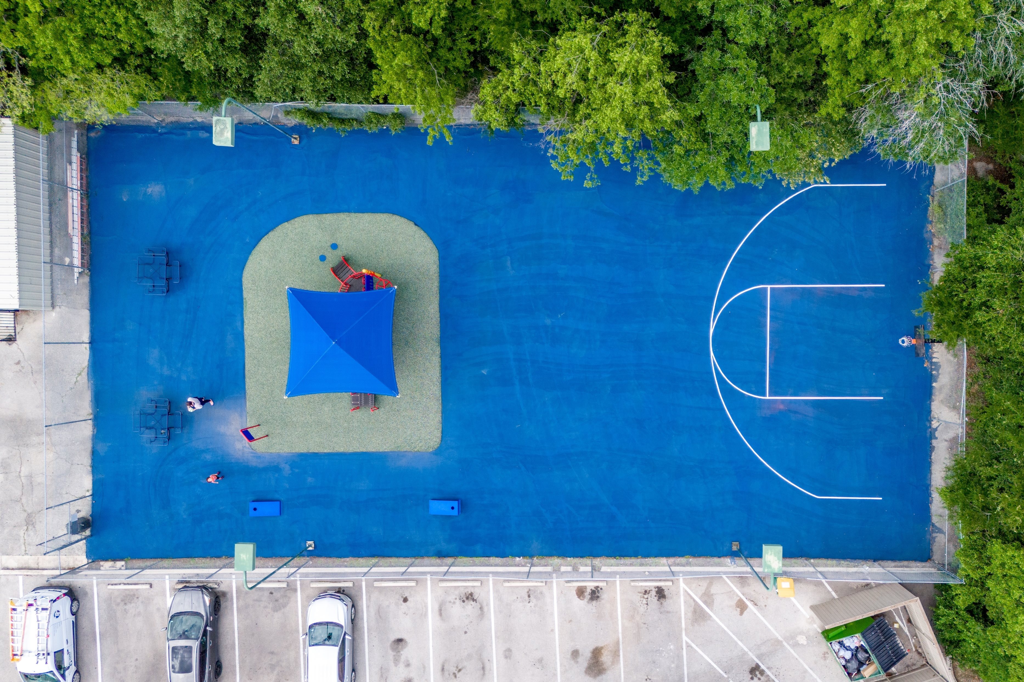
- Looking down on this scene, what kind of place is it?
sports ground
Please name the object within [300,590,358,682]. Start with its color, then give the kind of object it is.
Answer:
white car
